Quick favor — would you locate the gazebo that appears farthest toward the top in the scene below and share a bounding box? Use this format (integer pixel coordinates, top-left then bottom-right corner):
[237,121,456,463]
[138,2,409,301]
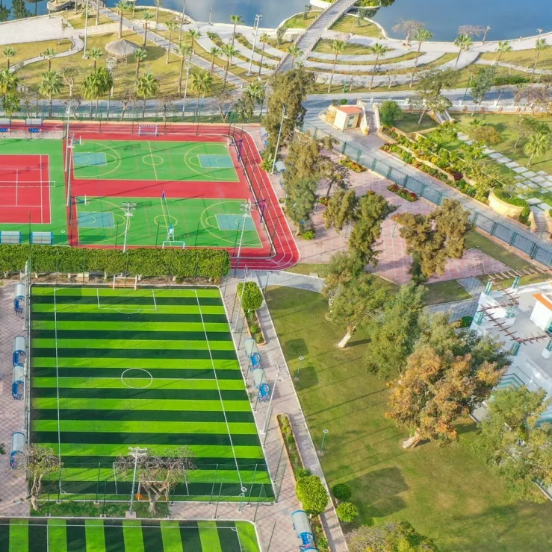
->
[105,37,142,64]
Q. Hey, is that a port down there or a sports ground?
sports ground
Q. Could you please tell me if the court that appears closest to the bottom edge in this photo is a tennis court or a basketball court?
basketball court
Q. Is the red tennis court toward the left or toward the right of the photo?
left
